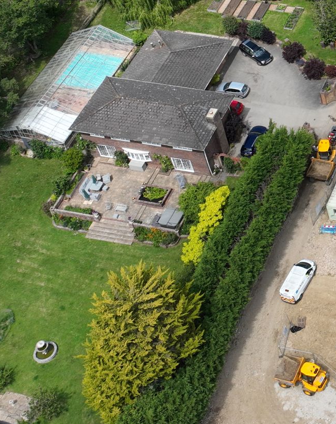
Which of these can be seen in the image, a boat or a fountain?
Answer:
fountain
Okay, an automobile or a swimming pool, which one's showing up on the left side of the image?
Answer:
swimming pool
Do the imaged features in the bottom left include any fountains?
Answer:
Yes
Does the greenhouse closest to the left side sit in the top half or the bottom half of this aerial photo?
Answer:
top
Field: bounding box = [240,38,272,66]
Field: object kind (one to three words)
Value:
car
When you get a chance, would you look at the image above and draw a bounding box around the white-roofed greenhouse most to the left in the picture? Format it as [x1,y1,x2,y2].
[0,28,139,155]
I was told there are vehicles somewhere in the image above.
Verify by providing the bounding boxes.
[265,261,307,306]
[241,123,271,157]
[308,133,336,173]
[218,83,251,100]
[240,38,272,66]
[269,355,321,394]
[229,100,251,120]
